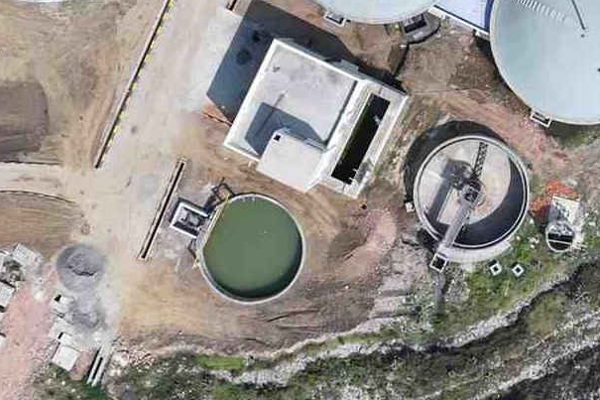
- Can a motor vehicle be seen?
No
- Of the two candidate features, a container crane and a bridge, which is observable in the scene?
bridge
